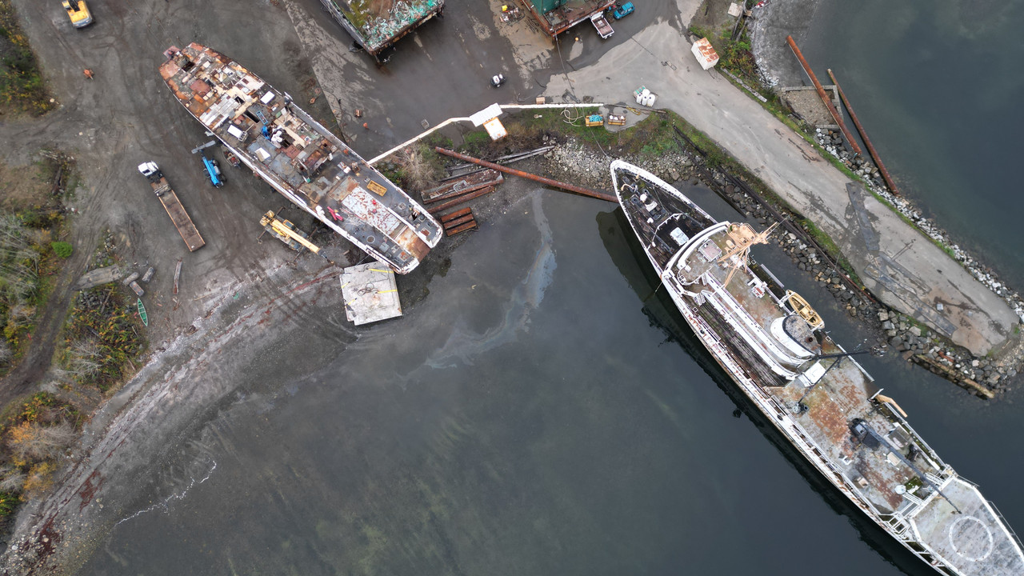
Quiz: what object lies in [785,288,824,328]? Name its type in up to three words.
boat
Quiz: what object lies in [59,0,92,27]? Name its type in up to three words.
work vehicle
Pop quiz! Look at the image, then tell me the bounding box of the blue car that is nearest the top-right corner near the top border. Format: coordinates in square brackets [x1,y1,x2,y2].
[613,1,635,20]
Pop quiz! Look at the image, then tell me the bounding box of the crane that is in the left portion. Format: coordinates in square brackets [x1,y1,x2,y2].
[258,207,331,263]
